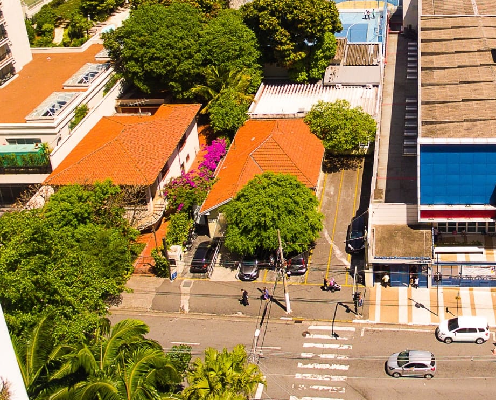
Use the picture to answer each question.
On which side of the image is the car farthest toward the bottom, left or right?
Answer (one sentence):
It is on the right.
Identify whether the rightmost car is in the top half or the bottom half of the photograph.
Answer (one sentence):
The bottom half of the photo is where the rightmost car is.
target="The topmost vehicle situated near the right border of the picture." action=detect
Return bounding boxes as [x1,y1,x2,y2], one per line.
[437,313,490,341]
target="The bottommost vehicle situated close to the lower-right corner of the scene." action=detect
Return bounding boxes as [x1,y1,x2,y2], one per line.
[386,348,435,376]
